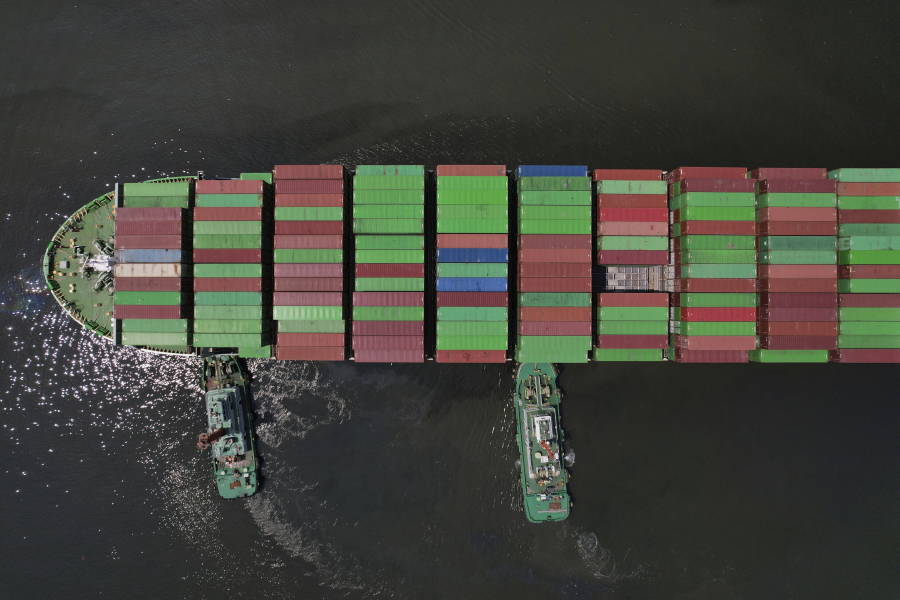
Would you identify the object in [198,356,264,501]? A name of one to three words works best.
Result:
boat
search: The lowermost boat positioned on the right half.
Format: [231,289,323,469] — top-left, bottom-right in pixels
[510,362,574,524]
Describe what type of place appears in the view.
port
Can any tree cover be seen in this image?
No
